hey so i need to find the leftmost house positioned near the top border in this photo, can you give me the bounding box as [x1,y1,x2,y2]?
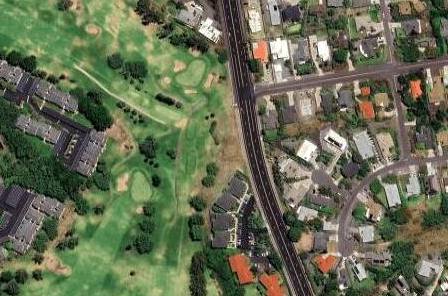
[178,1,203,25]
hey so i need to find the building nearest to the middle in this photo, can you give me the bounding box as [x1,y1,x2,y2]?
[225,175,250,198]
